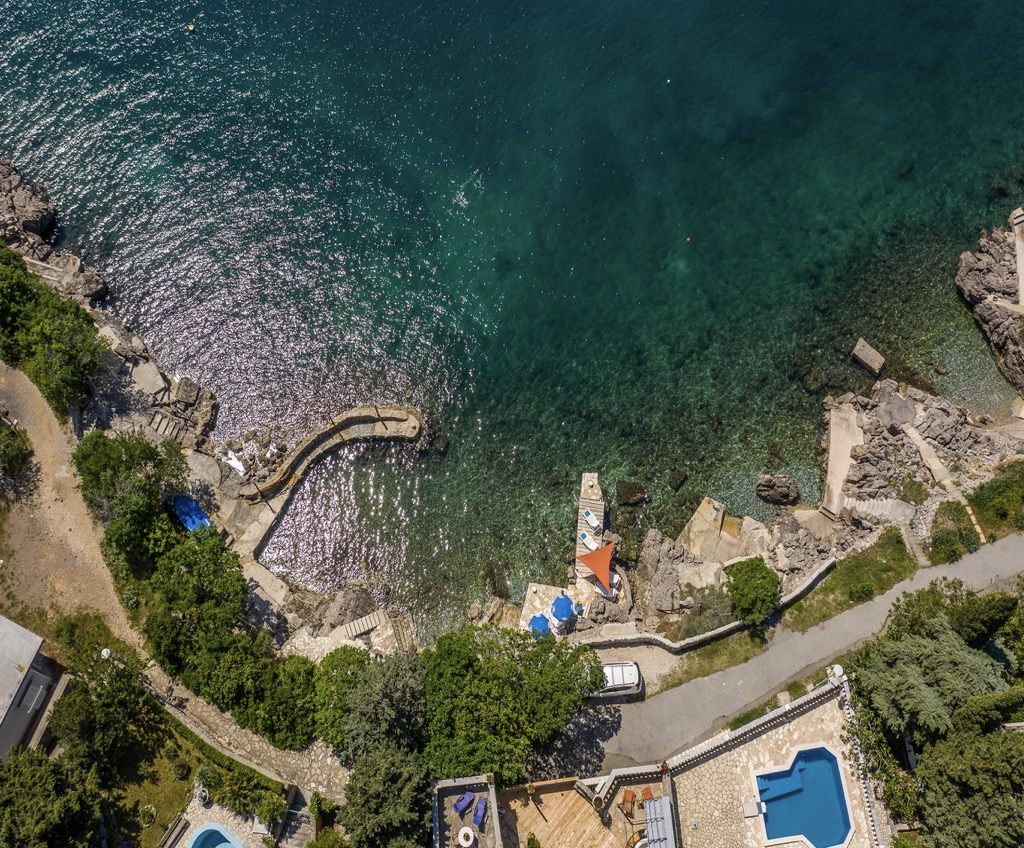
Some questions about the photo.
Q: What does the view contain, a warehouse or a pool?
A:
pool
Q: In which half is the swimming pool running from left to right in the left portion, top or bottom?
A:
bottom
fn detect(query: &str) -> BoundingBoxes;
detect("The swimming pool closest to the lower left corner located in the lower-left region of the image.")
[185,822,246,848]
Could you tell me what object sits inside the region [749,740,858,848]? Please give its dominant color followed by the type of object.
blue swimming pool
